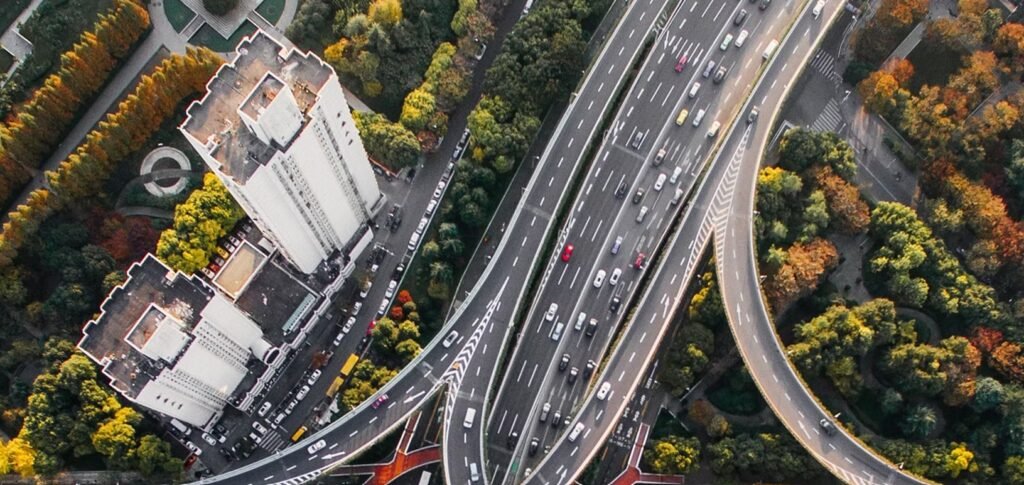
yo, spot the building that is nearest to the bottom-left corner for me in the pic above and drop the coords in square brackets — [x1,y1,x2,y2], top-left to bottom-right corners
[80,252,274,429]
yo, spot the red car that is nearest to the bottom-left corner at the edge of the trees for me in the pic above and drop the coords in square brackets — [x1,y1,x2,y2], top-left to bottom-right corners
[184,453,197,469]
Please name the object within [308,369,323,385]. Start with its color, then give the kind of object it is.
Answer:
white car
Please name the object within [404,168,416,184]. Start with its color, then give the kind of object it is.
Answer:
black vehicle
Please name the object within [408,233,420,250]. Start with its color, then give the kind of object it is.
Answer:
white vehicle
